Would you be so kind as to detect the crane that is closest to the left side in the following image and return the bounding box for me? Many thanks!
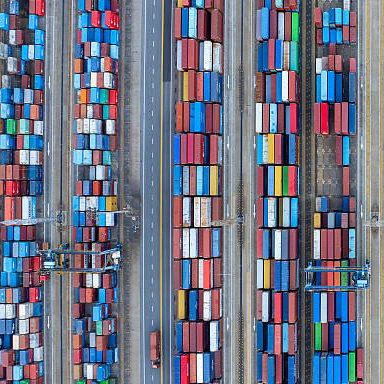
[38,243,122,275]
